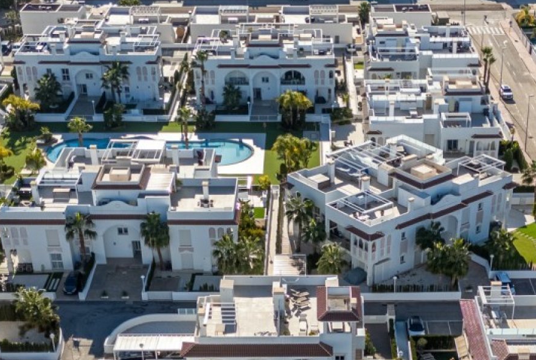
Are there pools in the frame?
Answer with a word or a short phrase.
Yes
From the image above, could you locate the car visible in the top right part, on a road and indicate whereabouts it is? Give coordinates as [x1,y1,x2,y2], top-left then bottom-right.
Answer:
[501,82,513,96]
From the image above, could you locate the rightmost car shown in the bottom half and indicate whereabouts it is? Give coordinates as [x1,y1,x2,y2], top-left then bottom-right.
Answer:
[497,273,517,292]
